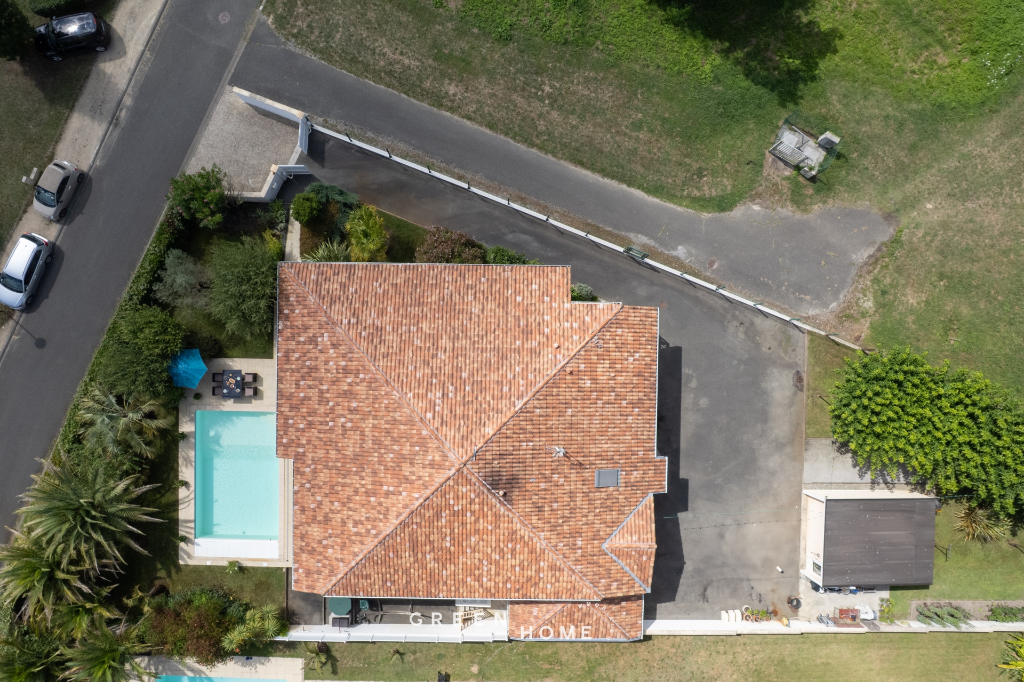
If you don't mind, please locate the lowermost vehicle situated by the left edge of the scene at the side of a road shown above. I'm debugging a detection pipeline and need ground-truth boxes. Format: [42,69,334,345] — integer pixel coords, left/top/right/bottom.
[0,232,50,310]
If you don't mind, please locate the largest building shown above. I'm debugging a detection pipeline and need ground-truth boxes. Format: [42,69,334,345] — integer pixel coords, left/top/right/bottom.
[274,260,669,601]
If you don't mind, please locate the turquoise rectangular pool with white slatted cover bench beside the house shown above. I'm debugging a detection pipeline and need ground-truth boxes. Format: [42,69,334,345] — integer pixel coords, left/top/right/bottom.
[194,411,279,559]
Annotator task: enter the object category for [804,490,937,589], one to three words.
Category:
shed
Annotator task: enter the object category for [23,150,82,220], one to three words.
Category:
car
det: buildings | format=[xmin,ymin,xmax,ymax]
[804,490,937,589]
[274,260,669,601]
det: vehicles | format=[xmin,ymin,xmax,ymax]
[31,7,112,58]
[23,150,82,220]
[0,232,50,310]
